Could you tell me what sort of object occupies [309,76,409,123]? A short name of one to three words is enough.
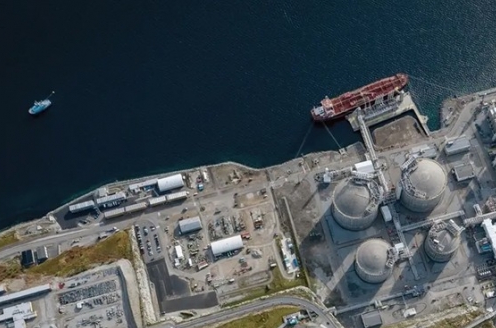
ship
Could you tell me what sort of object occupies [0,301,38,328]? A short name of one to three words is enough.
building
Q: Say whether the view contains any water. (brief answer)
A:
Yes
